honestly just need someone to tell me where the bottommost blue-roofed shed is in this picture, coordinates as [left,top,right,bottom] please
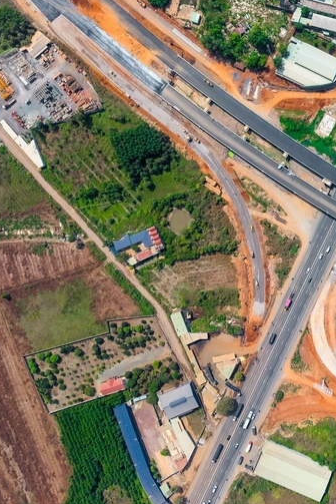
[135,457,170,504]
